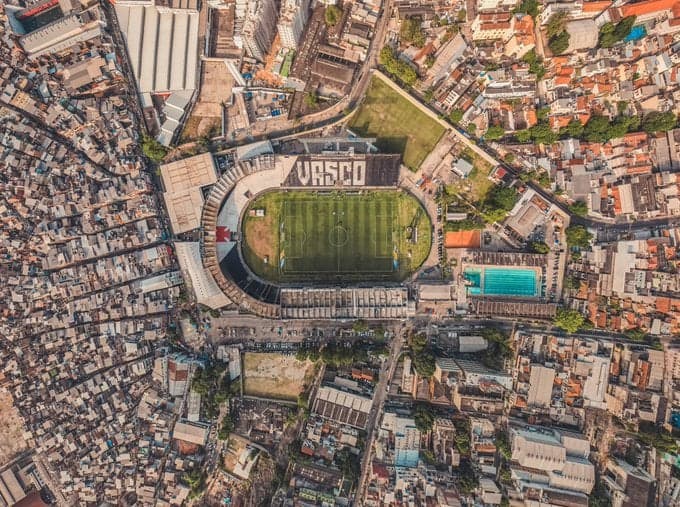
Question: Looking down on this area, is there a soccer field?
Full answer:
Yes, there is a soccer field in the image.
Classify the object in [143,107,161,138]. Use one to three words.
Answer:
building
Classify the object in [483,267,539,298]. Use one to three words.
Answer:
swimming pool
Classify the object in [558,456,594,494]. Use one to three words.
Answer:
shed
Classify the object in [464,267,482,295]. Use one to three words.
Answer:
swimming pool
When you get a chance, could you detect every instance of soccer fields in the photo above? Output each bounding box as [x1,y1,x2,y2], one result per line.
[282,198,396,275]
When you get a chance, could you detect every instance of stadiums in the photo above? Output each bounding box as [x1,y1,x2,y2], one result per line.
[201,153,433,321]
